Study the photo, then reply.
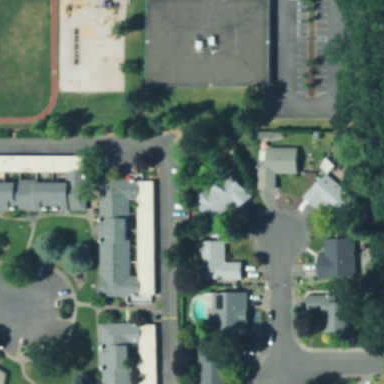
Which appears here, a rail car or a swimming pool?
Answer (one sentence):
It is a swimming pool that can be seen here.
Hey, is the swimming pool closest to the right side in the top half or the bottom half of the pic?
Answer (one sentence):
The swimming pool closest to the right side is in the bottom half of the image.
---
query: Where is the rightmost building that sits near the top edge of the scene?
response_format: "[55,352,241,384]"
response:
[147,0,270,86]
